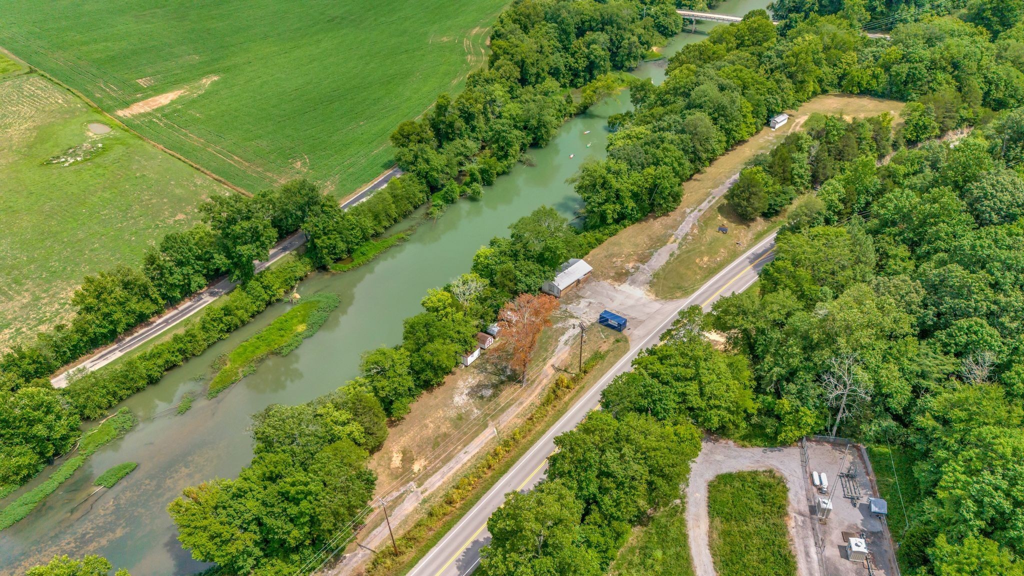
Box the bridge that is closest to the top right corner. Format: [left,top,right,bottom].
[679,7,749,32]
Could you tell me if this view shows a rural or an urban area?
rural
